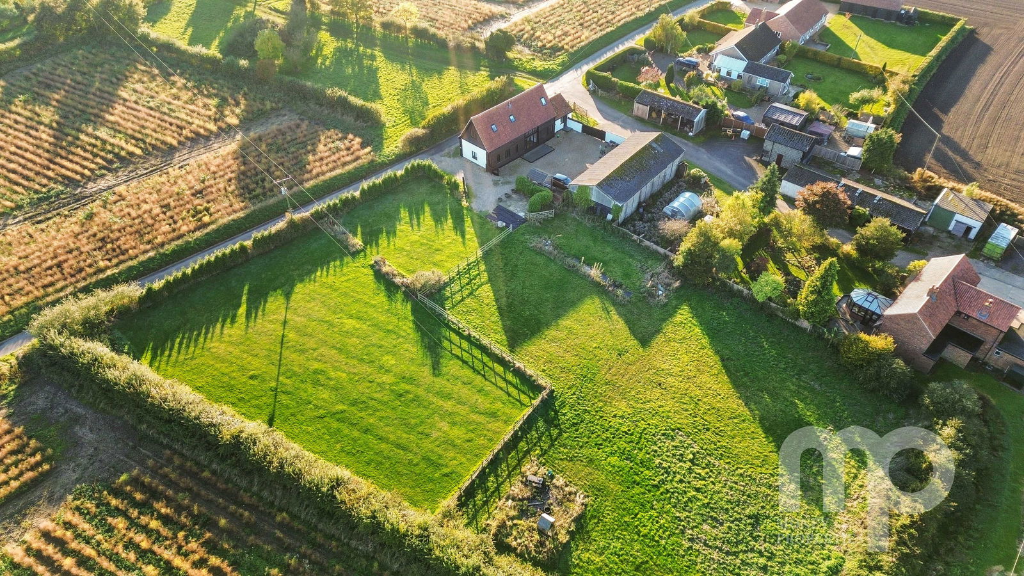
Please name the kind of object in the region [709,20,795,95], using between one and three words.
house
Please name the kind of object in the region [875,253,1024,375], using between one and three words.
house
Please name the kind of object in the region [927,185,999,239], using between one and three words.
barn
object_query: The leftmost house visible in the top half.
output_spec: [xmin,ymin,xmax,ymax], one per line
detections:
[458,84,573,172]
